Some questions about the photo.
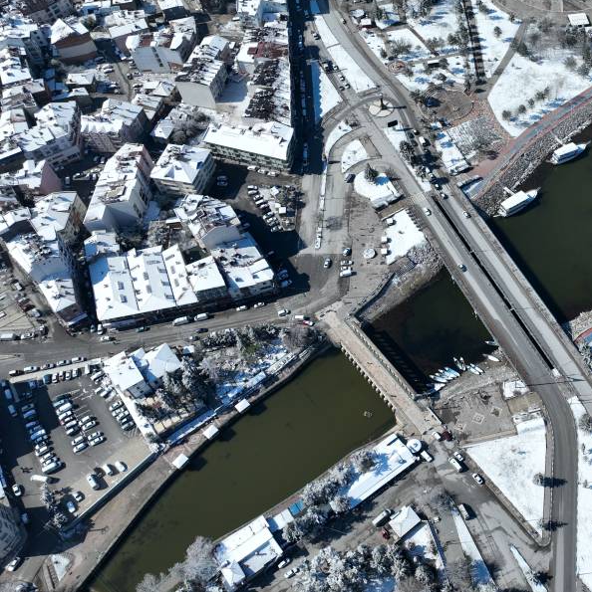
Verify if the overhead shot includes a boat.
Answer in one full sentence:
Yes, a boat can be made out from above.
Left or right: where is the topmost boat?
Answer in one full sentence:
You can find the topmost boat on the right side of the picture.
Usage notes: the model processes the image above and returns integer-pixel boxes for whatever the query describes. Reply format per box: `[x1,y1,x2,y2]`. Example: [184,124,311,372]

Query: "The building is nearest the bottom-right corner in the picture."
[388,506,420,540]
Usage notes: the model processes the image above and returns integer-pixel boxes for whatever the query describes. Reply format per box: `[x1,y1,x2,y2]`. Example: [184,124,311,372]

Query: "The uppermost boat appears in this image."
[548,138,589,163]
